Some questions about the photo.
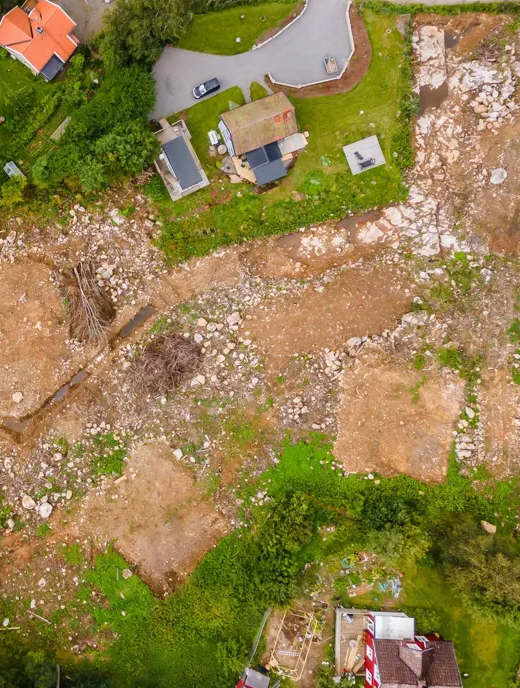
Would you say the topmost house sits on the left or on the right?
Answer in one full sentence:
The topmost house is on the left side of the image.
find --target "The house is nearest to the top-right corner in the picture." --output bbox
[220,91,307,187]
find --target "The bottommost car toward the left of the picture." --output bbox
[192,76,223,98]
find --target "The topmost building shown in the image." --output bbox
[0,0,80,84]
